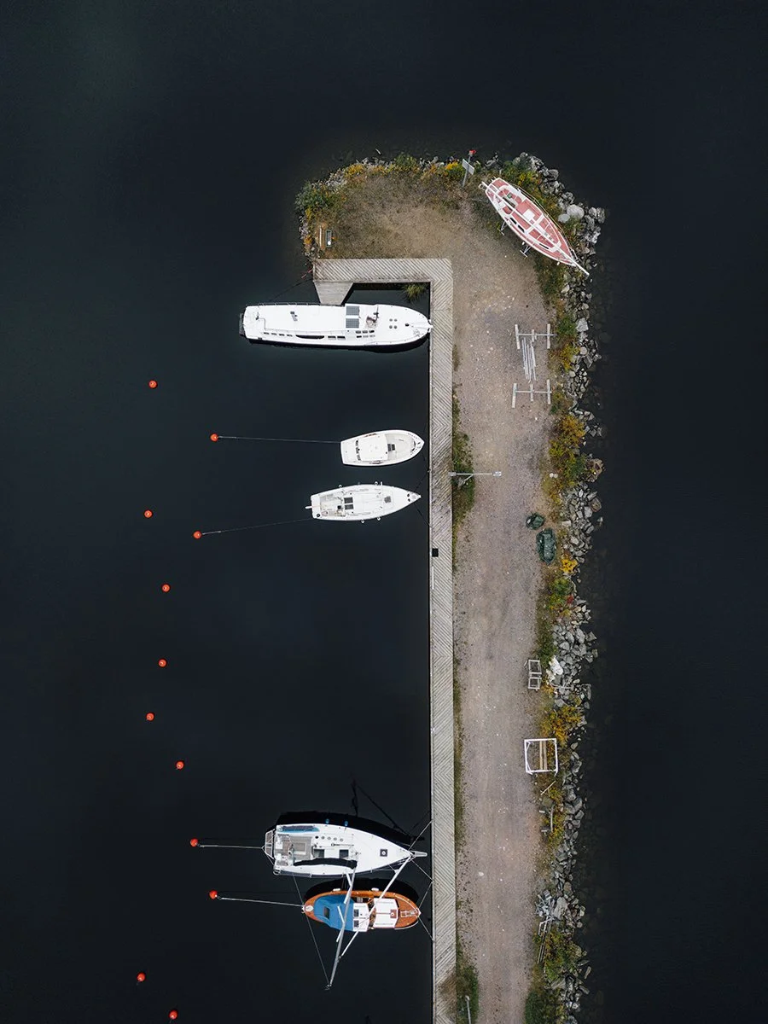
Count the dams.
0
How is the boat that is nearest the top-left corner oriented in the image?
horizontally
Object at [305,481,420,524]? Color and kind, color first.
white boat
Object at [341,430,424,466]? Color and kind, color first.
white boat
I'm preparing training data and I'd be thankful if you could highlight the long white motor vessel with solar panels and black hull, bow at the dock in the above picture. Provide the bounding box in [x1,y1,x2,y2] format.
[238,300,433,346]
